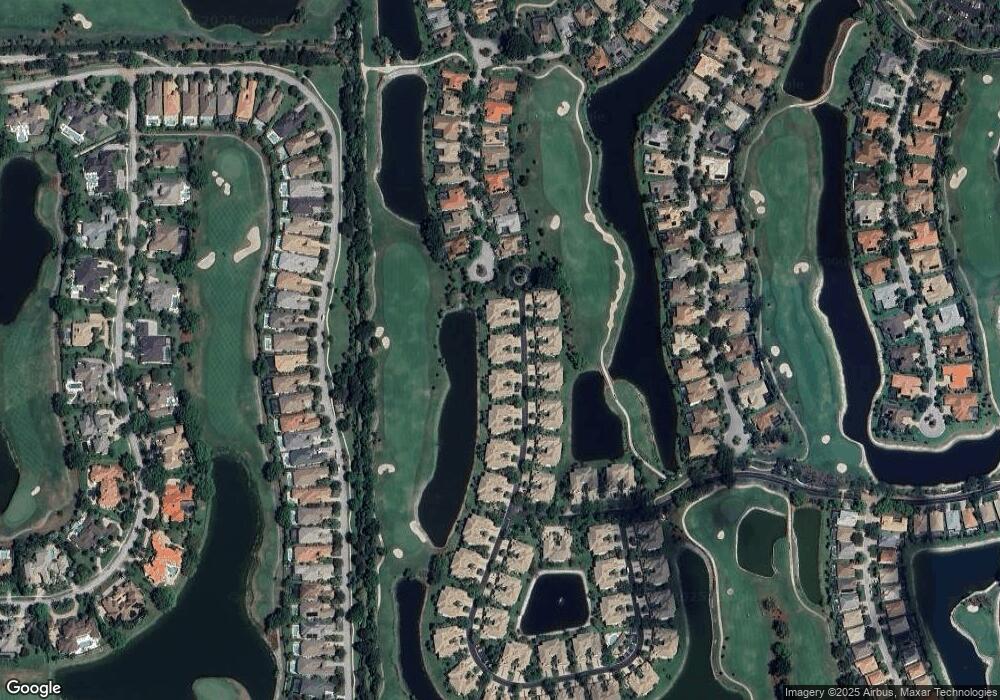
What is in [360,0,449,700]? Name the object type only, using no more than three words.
golf course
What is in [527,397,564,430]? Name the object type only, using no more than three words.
house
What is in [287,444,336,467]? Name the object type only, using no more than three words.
house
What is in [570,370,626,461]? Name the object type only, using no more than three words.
pond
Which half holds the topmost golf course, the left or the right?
left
